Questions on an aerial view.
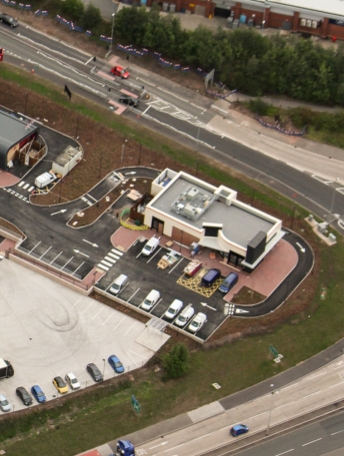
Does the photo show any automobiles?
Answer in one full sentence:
Yes, you can see an automobile in this photo.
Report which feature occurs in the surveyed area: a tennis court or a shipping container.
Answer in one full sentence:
Of the two, only a shipping container appears.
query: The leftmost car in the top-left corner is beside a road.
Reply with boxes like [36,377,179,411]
[0,12,19,28]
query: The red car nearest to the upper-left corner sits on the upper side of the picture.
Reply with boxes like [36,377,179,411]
[111,65,128,79]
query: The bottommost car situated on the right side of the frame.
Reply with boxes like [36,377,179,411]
[228,425,251,438]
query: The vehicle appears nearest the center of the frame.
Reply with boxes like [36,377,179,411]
[141,235,160,258]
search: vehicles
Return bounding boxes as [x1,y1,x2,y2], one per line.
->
[86,363,103,383]
[0,12,19,28]
[51,376,69,395]
[228,425,251,438]
[29,385,47,404]
[115,91,142,109]
[111,65,128,79]
[141,235,160,258]
[108,355,124,373]
[14,387,34,407]
[71,436,141,456]
[34,173,58,190]
[164,298,184,322]
[0,394,12,413]
[142,289,160,312]
[64,373,81,390]
[0,360,15,378]
[175,305,194,329]
[109,273,129,296]
[189,311,207,333]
